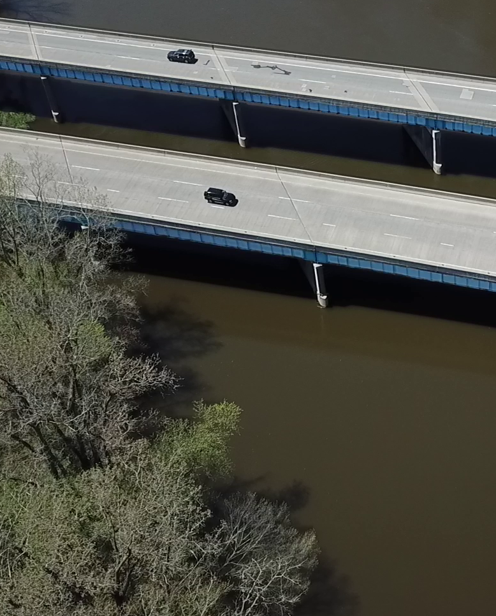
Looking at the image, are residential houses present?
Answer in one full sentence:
No, the photo shows no residential house.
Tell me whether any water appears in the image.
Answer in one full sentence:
Yes, there's water in this view.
